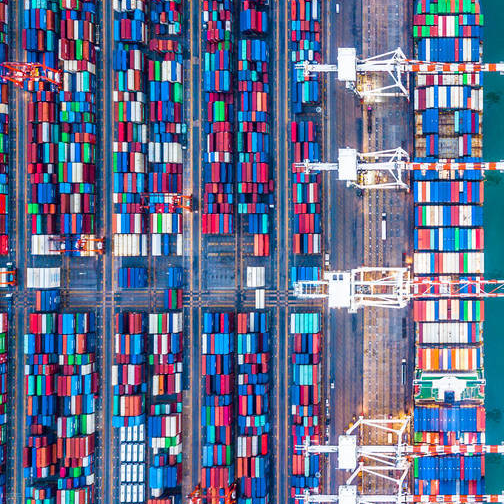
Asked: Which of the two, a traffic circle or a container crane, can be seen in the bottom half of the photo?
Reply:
container crane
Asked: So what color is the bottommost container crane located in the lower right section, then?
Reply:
white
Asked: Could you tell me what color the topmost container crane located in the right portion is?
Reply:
white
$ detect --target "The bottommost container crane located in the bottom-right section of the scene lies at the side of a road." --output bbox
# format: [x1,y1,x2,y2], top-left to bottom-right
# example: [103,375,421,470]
[295,456,504,504]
